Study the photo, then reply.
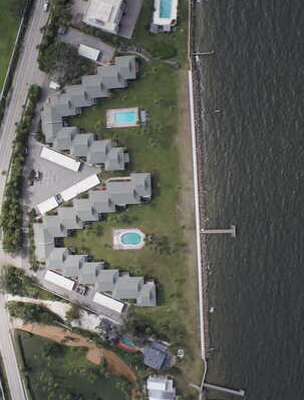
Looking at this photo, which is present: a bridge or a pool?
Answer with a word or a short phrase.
pool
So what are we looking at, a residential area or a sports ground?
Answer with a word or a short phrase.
residential area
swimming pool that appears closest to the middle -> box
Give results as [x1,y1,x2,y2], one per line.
[114,228,145,249]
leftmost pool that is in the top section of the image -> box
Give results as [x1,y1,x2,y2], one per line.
[107,108,138,128]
